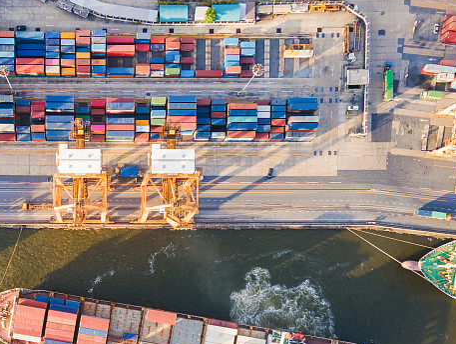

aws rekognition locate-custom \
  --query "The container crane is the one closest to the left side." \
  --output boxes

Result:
[48,119,117,231]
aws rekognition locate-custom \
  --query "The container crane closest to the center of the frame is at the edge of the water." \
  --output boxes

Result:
[129,120,205,231]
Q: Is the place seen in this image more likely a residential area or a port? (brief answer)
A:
port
